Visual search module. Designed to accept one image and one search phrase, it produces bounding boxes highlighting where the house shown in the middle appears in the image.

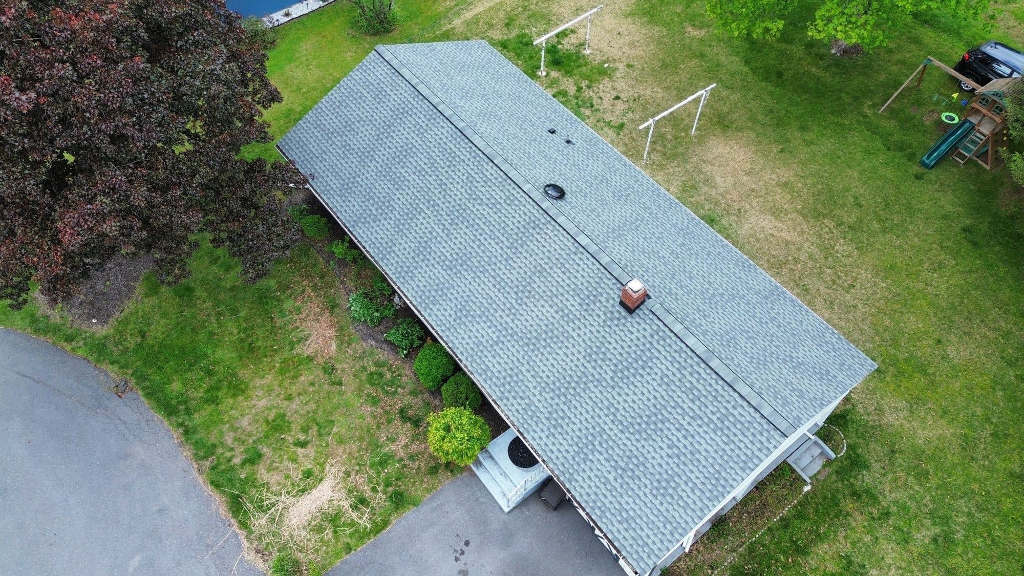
[273,40,879,576]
